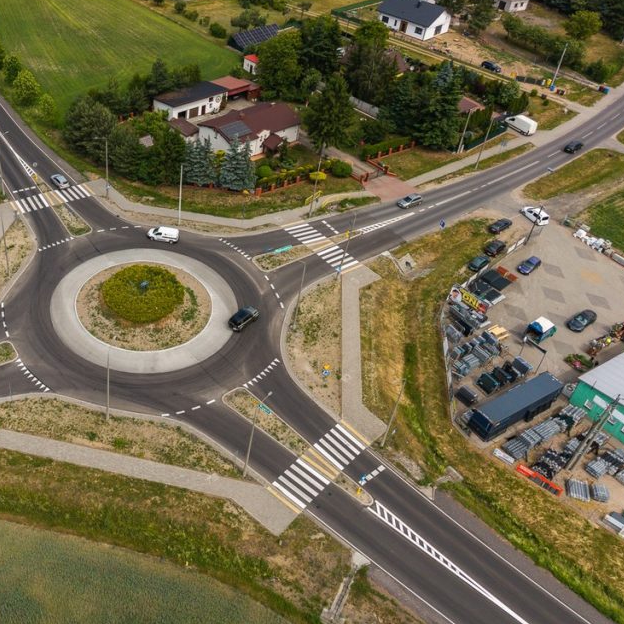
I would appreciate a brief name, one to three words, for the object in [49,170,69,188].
car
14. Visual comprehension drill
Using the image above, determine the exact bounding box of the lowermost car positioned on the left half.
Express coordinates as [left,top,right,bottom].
[227,303,263,327]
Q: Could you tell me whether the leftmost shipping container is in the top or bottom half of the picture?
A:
bottom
